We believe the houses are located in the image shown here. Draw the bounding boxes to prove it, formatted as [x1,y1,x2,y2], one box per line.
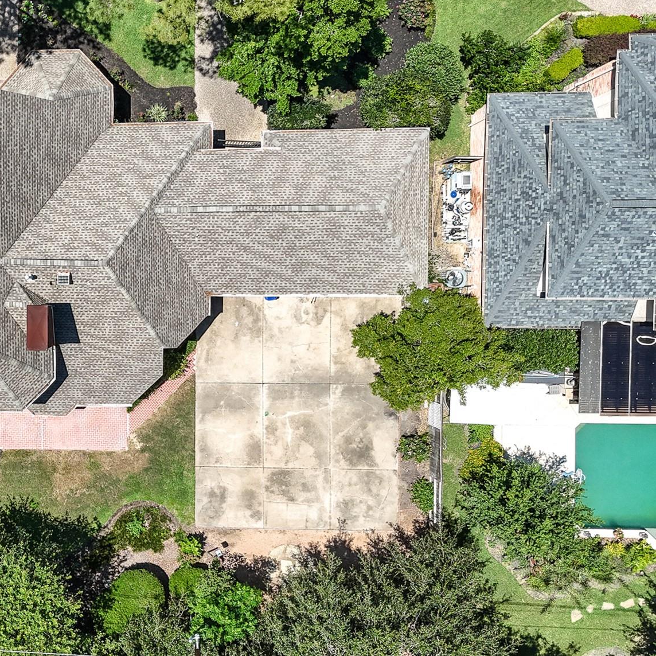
[467,31,656,332]
[0,46,433,417]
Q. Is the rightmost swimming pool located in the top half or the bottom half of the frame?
bottom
